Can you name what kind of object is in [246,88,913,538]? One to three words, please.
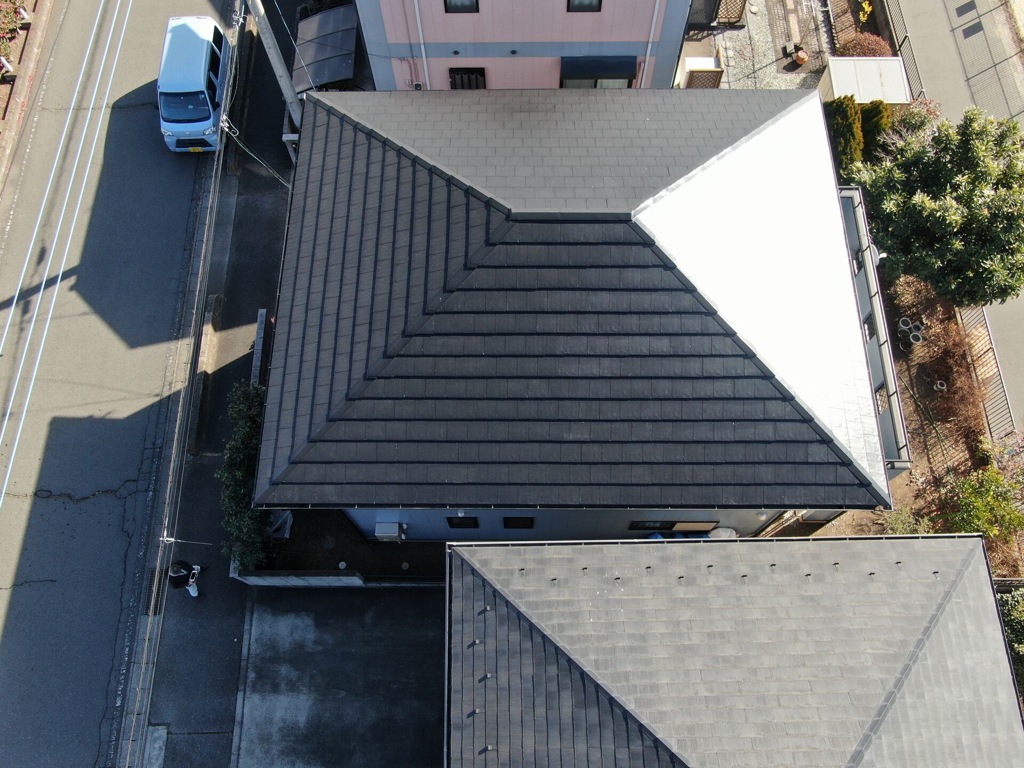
house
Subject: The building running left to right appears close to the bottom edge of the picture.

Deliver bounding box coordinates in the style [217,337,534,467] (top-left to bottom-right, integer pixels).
[440,531,1024,768]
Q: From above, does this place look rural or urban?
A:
urban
